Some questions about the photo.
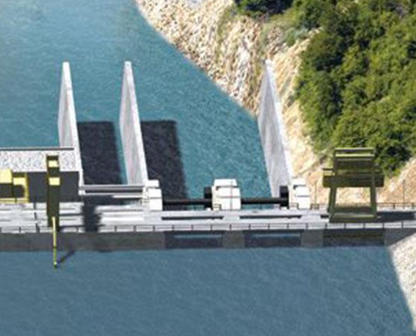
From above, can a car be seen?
No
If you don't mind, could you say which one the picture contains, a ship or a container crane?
container crane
